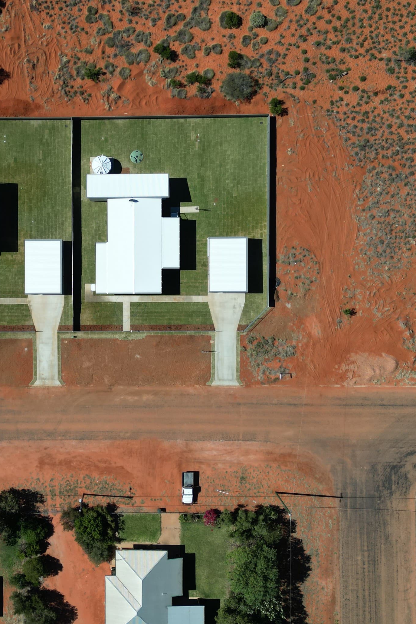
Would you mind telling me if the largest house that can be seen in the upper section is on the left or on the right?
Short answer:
left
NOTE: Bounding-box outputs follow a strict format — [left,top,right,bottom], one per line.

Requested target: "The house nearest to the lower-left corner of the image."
[105,546,204,624]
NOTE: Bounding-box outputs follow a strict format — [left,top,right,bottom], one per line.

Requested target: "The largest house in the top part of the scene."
[87,174,180,294]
